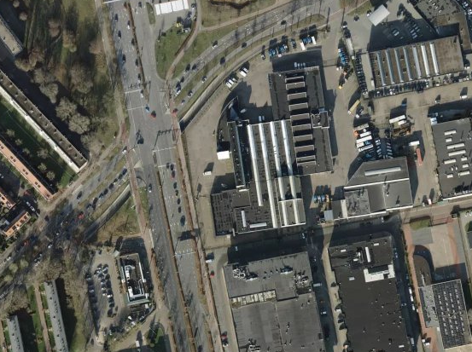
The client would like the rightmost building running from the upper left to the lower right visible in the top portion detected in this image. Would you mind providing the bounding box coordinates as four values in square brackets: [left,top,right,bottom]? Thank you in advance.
[415,0,472,54]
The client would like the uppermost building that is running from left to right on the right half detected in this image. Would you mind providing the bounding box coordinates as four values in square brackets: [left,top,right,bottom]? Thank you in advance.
[368,35,463,89]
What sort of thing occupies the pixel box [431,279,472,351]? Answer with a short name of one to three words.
building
